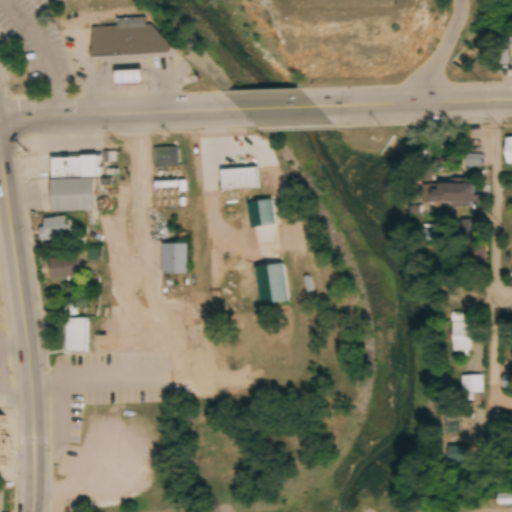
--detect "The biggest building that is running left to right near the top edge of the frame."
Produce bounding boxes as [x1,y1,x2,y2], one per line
[91,23,172,56]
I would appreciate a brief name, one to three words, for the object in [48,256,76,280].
house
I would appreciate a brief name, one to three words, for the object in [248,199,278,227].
barn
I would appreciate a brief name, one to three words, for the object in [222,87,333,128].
bridge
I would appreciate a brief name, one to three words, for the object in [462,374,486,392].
building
